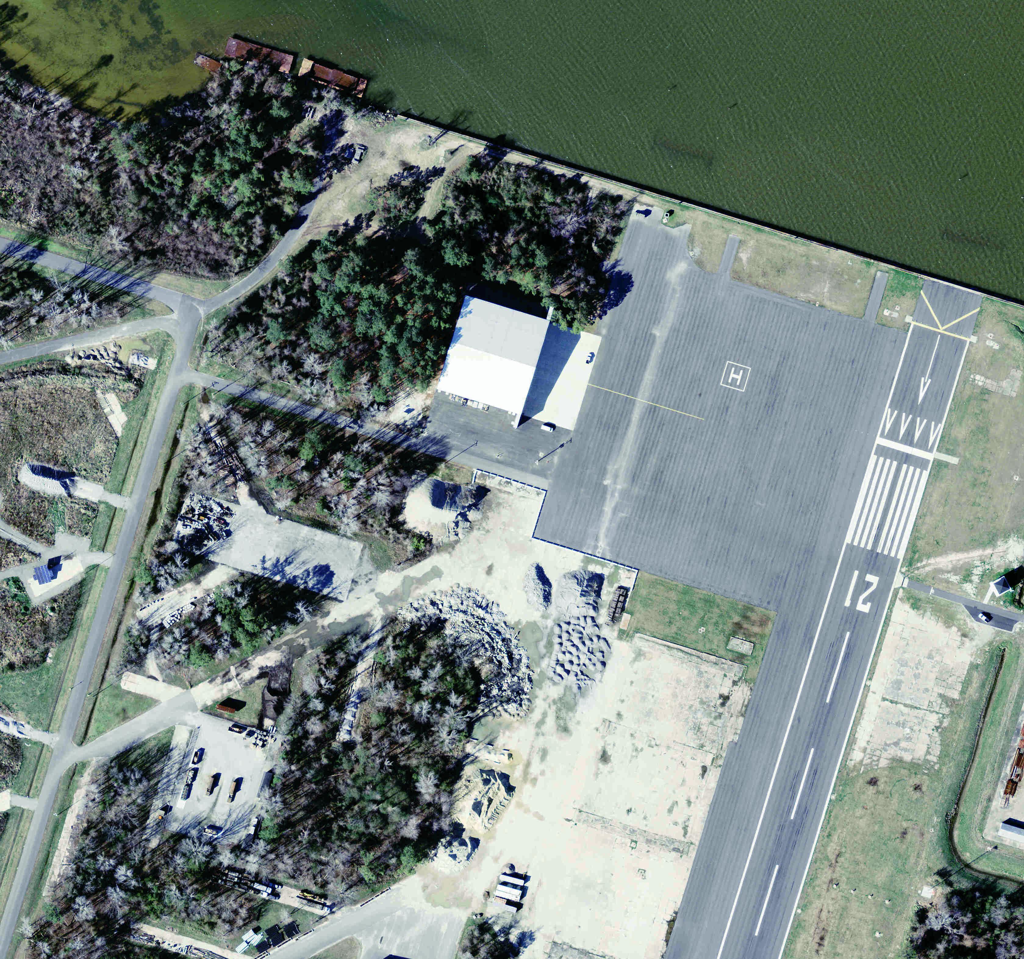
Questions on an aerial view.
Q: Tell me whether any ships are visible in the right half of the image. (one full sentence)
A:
No, no ship appears in the right half of the image.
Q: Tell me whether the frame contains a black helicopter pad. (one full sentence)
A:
No, I can see no black helicopter pad in this picture.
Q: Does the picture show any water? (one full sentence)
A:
Yes, the picture does contain water.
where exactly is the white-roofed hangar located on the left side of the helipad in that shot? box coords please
[437,295,553,428]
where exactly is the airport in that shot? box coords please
[534,204,982,959]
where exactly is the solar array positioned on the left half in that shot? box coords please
[32,565,53,585]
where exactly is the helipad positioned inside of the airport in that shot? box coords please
[721,361,751,391]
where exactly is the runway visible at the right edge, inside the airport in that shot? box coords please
[719,280,982,959]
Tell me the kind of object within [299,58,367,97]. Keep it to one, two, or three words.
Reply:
ship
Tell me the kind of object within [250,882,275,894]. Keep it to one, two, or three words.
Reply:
vehicle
